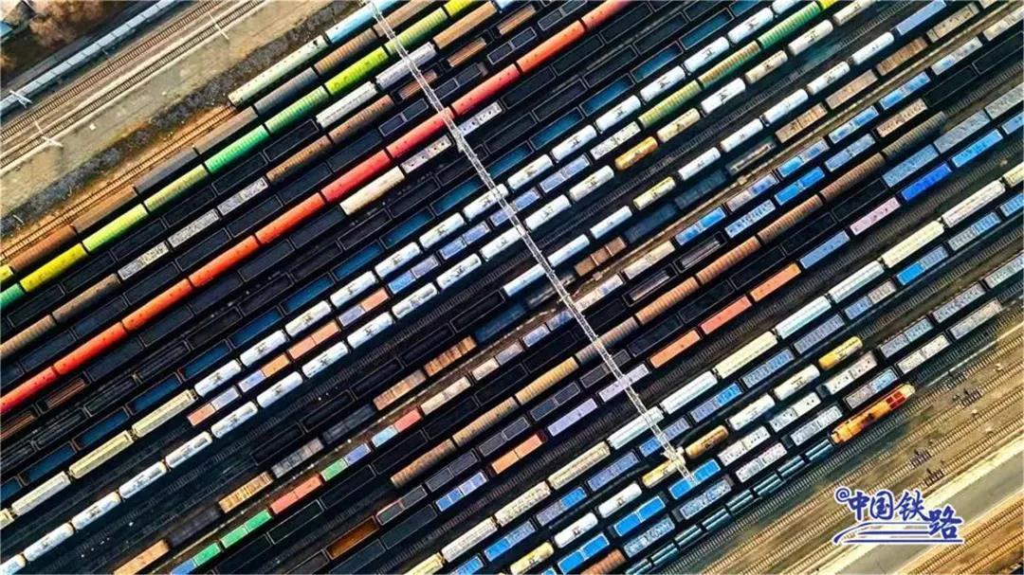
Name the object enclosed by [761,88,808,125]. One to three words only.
rail car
